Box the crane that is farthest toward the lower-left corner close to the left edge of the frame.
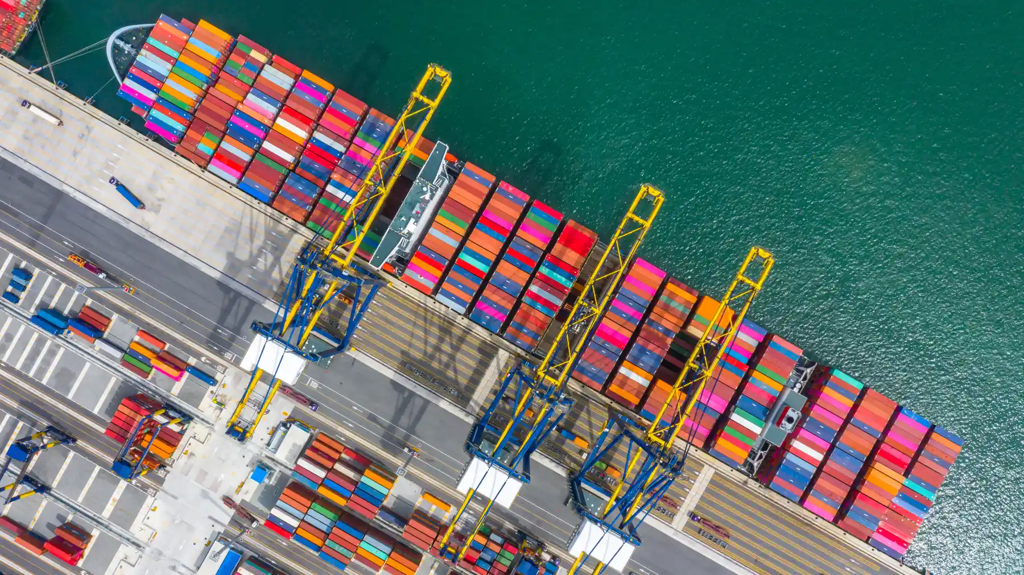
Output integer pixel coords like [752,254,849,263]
[0,429,77,507]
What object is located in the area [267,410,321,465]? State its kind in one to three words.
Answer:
shed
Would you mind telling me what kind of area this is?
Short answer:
port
